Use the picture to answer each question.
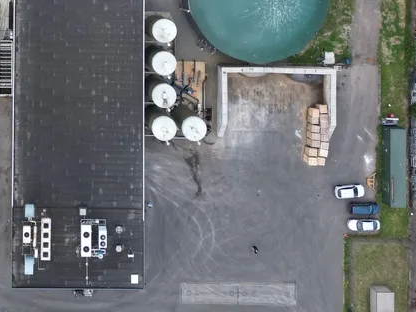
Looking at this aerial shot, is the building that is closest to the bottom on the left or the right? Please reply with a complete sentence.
You can find the building that is closest to the bottom on the right side of the picture.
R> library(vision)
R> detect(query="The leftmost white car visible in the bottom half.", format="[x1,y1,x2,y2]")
[332,183,362,198]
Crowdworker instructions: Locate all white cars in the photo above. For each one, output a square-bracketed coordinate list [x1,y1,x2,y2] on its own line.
[347,218,381,232]
[332,183,362,198]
